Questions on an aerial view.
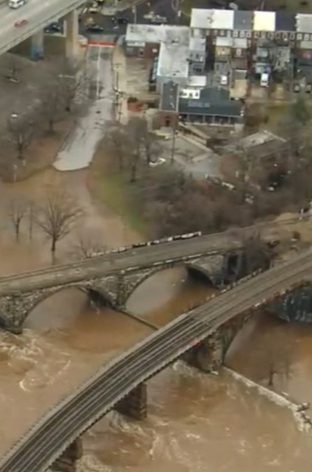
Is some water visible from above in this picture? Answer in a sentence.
Yes, water can be seen from above here.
